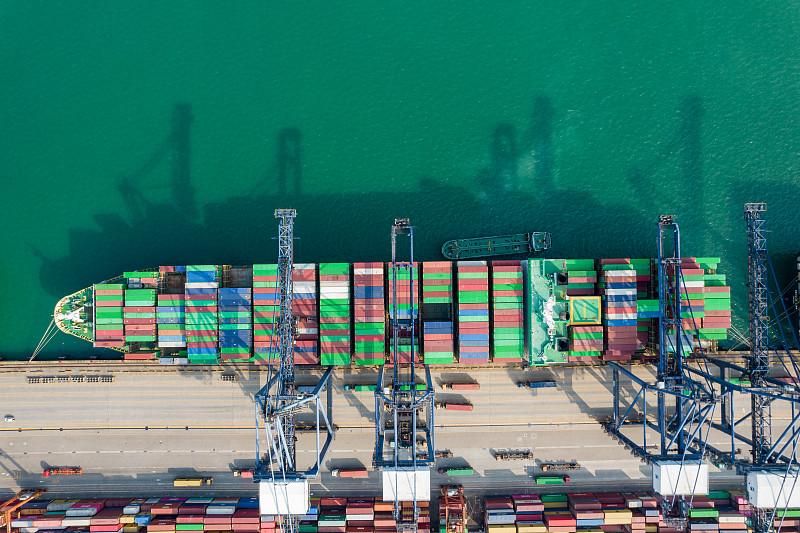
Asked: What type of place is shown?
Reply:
port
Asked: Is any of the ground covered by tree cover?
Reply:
No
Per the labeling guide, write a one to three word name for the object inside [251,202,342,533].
container crane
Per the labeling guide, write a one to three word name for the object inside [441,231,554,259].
ship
